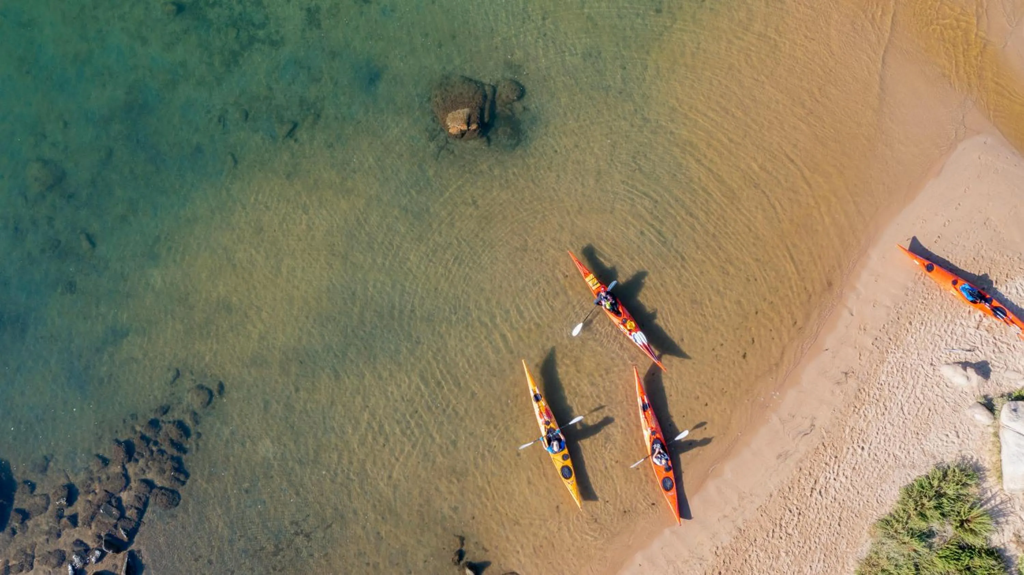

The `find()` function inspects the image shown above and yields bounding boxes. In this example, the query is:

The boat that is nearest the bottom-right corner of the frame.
[892,244,1024,331]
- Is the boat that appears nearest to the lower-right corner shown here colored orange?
Yes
